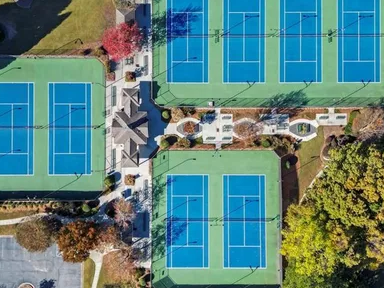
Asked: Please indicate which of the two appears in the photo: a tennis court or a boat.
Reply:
tennis court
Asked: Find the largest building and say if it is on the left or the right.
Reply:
left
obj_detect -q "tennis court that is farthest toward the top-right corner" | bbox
[338,0,381,83]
